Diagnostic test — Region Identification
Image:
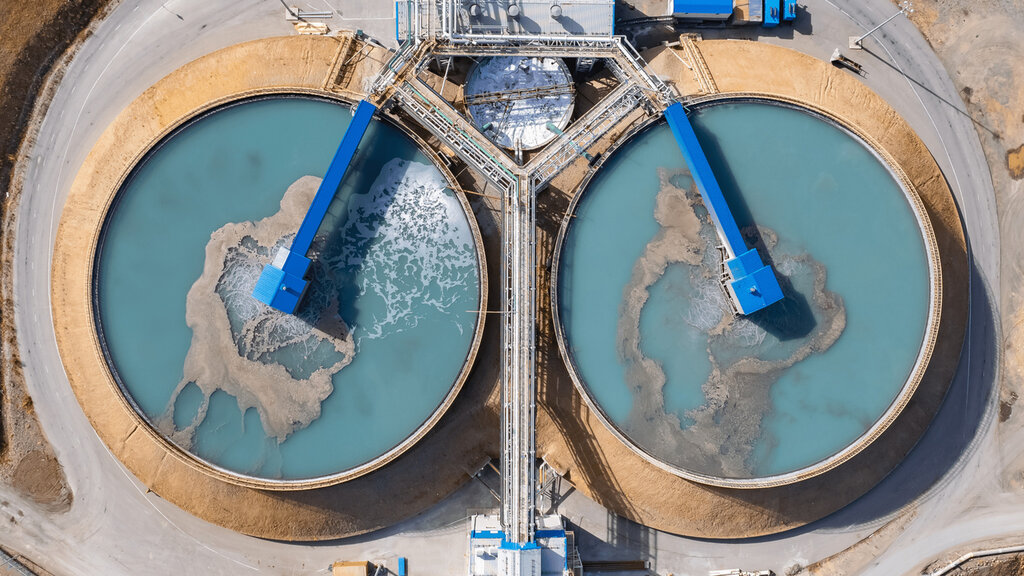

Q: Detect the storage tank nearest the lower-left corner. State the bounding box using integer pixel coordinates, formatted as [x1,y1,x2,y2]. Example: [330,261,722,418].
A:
[83,86,488,492]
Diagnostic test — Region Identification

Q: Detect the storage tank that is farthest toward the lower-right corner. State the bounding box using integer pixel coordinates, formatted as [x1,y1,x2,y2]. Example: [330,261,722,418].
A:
[548,90,949,490]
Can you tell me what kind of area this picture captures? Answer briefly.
industrial area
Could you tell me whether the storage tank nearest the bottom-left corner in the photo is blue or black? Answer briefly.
blue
